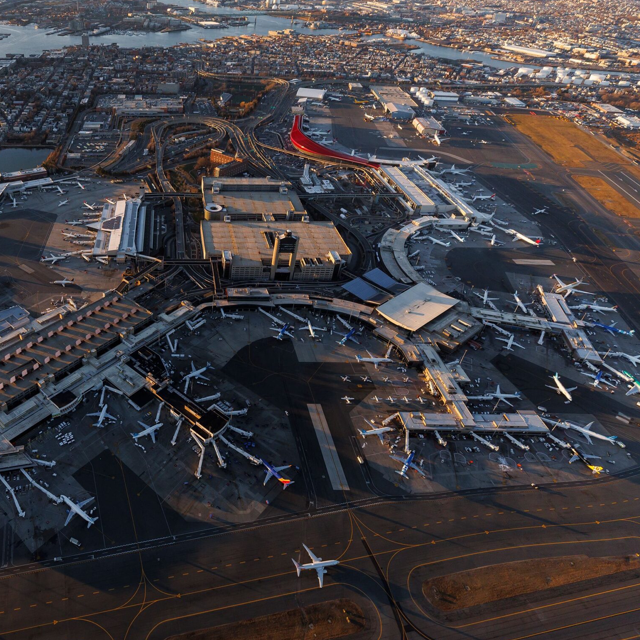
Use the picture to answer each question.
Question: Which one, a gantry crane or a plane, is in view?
plane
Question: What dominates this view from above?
paved ground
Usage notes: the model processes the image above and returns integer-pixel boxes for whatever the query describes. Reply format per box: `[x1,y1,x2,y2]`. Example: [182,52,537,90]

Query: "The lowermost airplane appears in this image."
[291,543,338,587]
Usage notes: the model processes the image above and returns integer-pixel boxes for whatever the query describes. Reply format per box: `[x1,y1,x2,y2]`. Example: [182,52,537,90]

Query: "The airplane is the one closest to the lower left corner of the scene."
[62,497,100,529]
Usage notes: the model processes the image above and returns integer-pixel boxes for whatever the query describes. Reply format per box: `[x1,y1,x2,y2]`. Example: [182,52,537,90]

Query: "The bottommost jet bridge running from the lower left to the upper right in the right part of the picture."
[380,410,402,427]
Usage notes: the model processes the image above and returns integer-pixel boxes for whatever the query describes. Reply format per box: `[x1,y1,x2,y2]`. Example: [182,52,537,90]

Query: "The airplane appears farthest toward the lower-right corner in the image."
[571,449,605,473]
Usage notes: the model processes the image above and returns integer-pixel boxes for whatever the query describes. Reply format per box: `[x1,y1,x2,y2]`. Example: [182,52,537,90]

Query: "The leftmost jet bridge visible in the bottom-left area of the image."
[0,474,26,520]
